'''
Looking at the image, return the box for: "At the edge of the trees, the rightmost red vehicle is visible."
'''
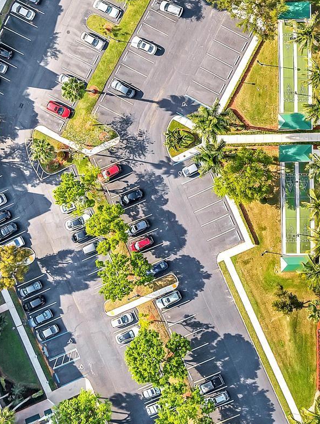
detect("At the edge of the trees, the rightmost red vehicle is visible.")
[129,234,155,252]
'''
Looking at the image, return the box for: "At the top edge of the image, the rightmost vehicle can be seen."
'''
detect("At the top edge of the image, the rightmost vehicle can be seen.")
[156,0,187,20]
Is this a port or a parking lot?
parking lot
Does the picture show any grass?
Yes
